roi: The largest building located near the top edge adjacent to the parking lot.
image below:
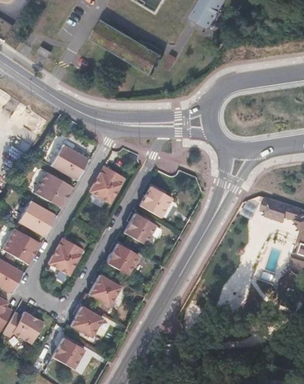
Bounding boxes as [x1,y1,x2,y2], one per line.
[88,18,161,76]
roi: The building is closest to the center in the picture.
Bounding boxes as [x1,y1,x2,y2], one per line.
[140,186,174,220]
